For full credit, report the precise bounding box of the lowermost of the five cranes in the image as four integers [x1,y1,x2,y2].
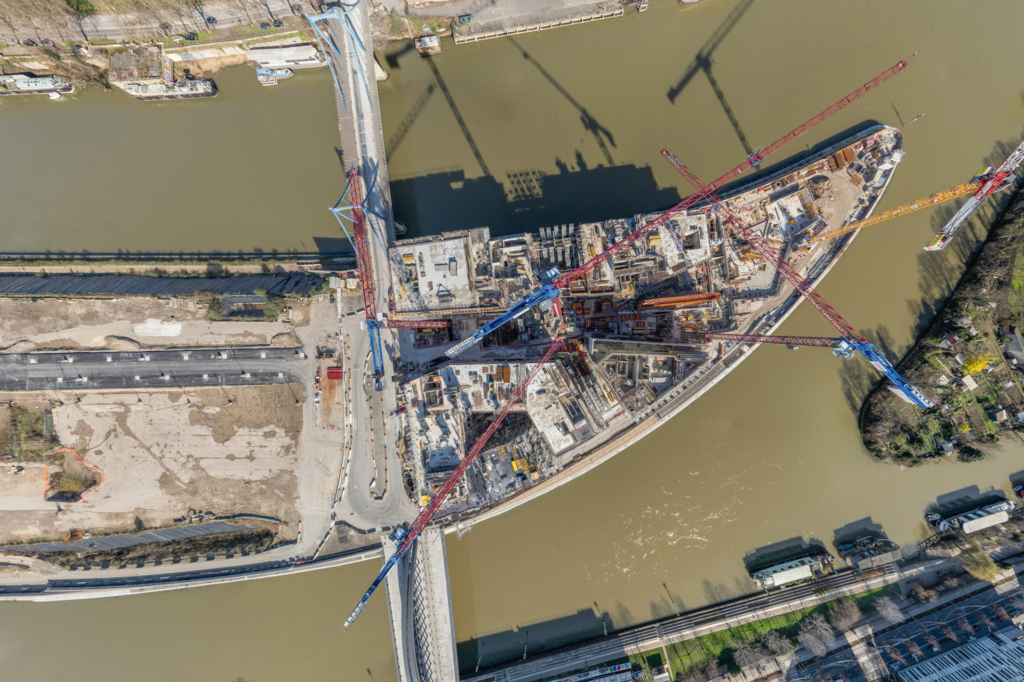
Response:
[335,324,573,638]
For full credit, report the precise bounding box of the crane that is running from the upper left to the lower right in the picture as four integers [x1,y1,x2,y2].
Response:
[644,138,944,416]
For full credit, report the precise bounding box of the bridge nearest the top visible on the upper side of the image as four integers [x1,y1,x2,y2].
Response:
[303,0,406,282]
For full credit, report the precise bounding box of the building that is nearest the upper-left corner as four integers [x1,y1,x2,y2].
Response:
[107,43,183,88]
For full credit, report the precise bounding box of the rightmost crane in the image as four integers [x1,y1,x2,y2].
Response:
[803,131,1024,259]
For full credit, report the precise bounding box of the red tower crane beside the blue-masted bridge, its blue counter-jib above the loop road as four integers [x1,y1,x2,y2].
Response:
[345,155,458,403]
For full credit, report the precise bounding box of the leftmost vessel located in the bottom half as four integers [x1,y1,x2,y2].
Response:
[748,547,834,593]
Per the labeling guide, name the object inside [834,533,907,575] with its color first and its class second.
gray ship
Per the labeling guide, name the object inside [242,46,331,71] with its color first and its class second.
white boat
